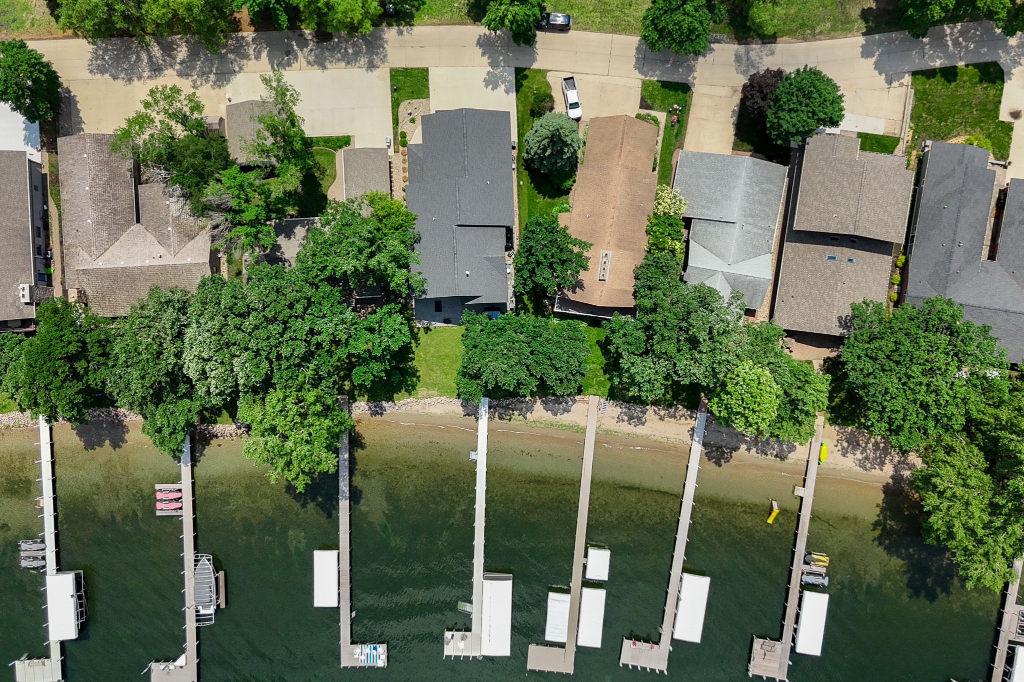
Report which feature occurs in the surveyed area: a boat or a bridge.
boat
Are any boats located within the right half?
Yes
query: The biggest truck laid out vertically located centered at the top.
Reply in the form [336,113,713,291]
[560,75,584,122]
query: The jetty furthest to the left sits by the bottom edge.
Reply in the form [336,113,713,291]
[11,421,65,682]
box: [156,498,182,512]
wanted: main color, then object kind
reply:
pink boat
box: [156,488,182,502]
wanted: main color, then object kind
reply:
pink boat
